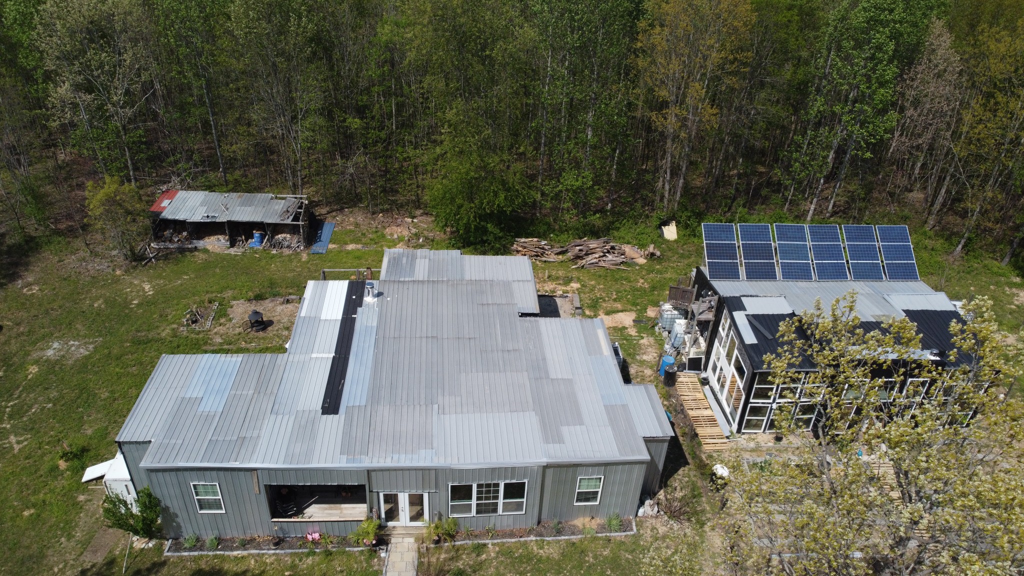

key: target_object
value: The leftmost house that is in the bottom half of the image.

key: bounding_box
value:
[113,248,677,539]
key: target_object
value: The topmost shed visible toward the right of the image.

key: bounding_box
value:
[663,215,680,241]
